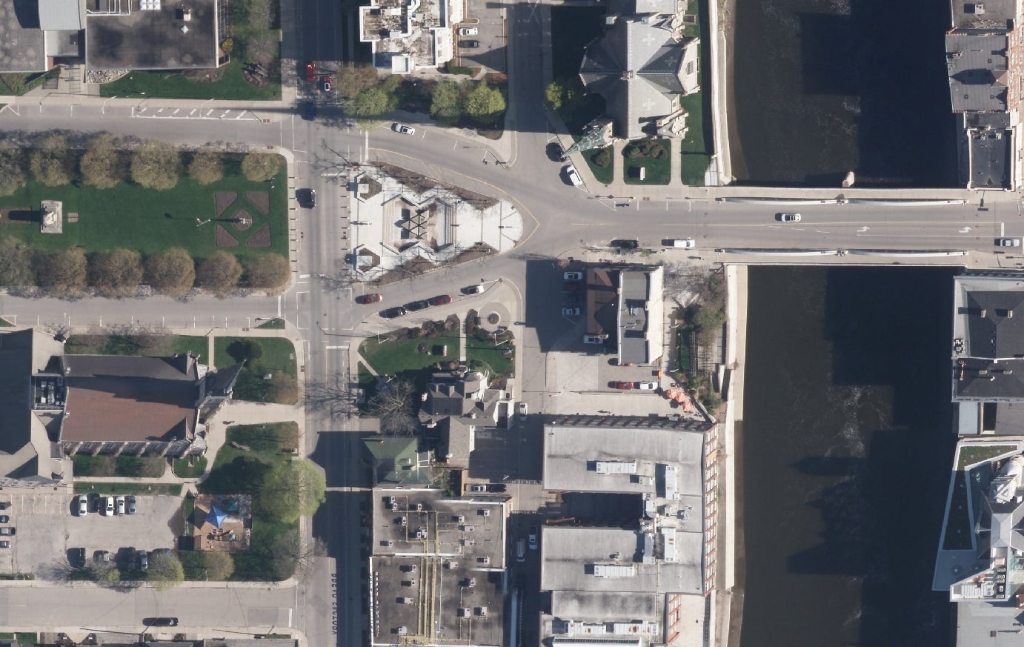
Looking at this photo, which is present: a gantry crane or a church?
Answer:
church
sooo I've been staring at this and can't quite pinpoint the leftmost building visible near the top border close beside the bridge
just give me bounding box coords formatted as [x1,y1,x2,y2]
[564,13,699,153]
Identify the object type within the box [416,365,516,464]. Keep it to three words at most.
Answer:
house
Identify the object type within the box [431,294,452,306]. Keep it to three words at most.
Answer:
vehicle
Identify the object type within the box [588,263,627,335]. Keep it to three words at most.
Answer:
building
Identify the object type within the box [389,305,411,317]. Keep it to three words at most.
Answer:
vehicle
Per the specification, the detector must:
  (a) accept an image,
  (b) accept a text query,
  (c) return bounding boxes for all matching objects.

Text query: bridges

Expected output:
[720,169,1024,266]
